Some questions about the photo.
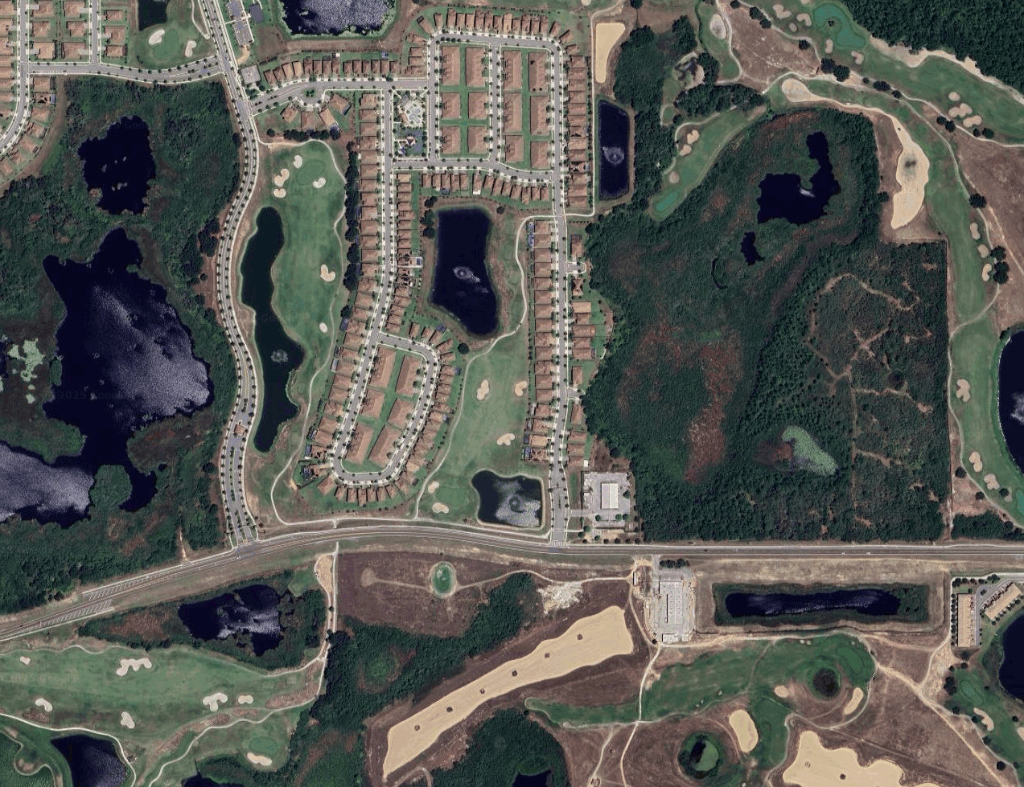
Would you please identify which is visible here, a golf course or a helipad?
golf course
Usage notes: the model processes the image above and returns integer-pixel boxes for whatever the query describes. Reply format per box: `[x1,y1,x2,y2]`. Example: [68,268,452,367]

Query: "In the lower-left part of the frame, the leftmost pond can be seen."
[50,735,127,787]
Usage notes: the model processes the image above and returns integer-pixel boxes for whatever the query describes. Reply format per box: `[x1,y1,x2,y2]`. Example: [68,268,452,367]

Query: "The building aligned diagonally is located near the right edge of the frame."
[985,584,1022,621]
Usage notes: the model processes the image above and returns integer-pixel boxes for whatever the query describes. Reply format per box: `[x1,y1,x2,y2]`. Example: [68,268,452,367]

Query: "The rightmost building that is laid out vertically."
[958,594,971,648]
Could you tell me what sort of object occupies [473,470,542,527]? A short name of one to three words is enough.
pond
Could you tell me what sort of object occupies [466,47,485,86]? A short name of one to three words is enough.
building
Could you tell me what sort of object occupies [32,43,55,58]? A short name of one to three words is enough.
house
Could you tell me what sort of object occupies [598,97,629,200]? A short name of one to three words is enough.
pond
